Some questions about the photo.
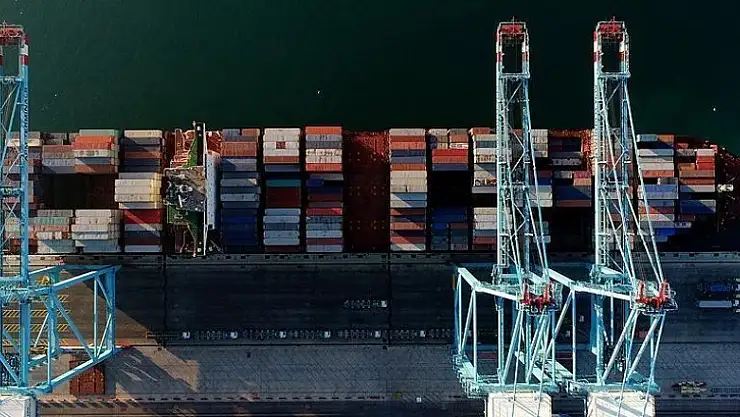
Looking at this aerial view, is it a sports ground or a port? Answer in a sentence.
It's a port.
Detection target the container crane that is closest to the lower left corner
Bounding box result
[0,16,135,417]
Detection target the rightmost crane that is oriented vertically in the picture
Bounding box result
[520,15,669,417]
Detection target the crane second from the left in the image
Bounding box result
[439,15,556,417]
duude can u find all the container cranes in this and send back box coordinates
[0,16,135,417]
[520,15,669,417]
[439,15,556,417]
